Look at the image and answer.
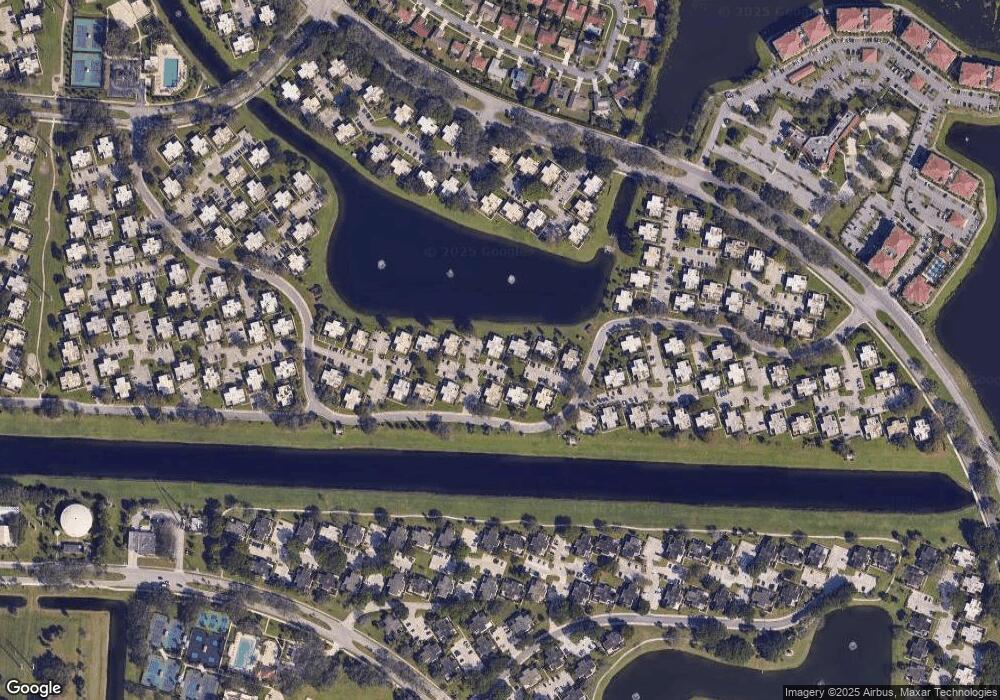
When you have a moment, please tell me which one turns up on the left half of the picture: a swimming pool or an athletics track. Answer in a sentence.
Looking on the left half of the picture, you will find a swimming pool.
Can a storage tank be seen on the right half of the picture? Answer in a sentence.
No, I can find no storage tank on the right half of the picture.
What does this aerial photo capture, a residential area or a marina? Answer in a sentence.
The picture captures a residential area.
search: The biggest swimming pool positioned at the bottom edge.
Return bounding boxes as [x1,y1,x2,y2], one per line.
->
[229,631,262,672]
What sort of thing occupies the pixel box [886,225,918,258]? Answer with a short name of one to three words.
building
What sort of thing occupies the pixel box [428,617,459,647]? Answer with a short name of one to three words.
house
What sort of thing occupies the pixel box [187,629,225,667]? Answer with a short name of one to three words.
sports court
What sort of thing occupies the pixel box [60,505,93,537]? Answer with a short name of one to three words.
storage tank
